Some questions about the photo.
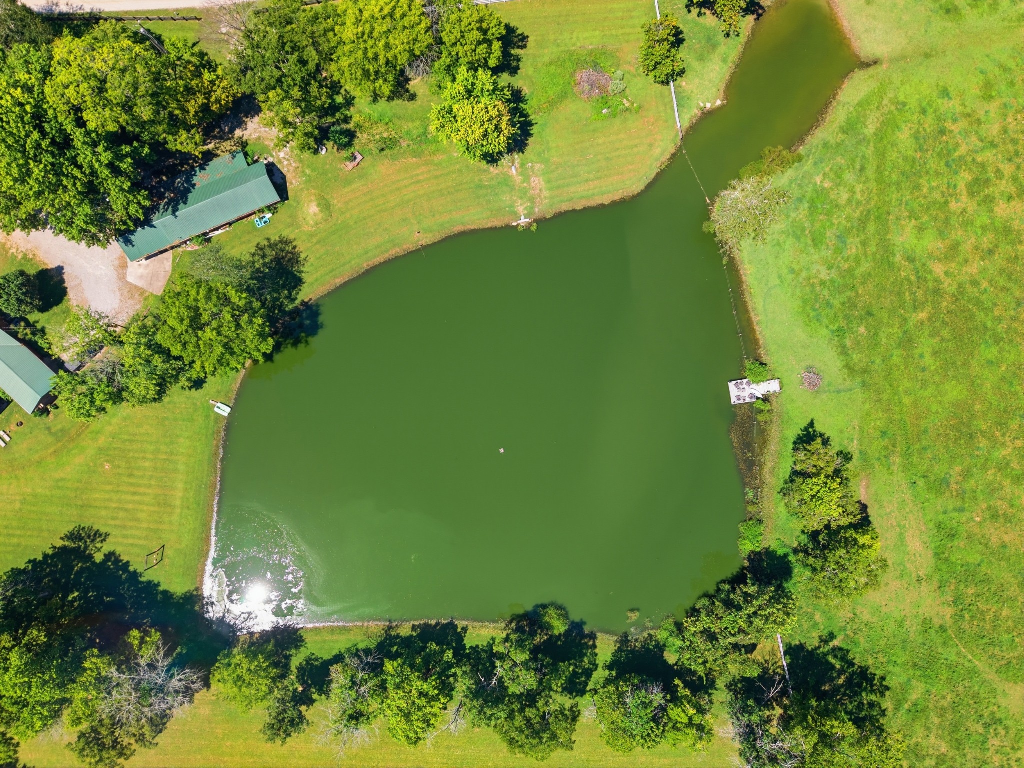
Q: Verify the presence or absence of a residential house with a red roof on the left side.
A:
No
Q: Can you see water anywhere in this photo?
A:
Yes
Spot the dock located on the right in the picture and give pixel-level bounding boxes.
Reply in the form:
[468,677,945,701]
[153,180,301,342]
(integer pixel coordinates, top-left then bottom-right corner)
[727,379,781,405]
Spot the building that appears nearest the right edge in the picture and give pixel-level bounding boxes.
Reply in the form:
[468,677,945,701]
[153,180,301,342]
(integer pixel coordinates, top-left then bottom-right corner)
[114,152,281,263]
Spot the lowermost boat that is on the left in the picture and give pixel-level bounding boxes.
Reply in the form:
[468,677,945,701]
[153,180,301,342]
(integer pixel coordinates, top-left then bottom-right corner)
[215,403,232,416]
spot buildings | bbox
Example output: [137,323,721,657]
[114,152,281,263]
[0,324,62,417]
